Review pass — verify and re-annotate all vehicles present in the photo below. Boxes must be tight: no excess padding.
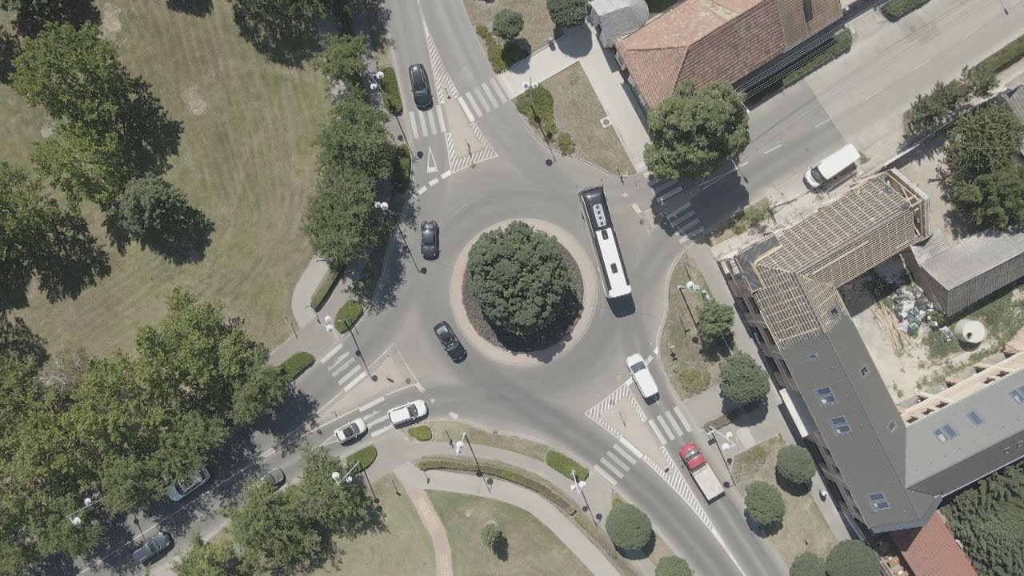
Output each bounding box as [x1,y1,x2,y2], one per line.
[386,397,430,427]
[680,444,725,501]
[408,62,434,113]
[432,319,468,364]
[332,416,370,445]
[573,178,631,301]
[169,466,213,502]
[802,141,866,186]
[129,529,175,567]
[626,352,661,401]
[419,219,440,260]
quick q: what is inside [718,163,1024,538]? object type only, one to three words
building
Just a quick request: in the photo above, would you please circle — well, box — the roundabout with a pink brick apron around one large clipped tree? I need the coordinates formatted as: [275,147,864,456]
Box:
[387,156,661,430]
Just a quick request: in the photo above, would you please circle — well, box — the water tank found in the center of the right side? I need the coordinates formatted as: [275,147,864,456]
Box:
[949,316,985,345]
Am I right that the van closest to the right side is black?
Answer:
No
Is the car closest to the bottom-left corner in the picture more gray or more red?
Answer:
gray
